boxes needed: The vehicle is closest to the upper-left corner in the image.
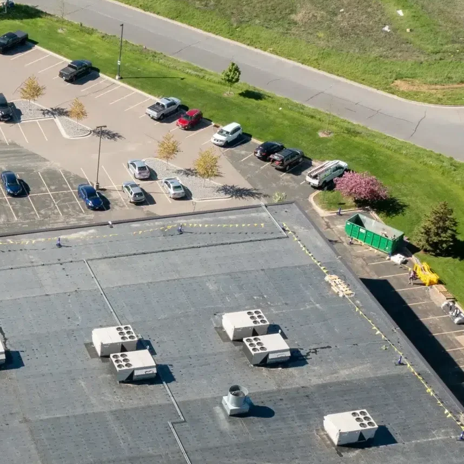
[0,31,28,51]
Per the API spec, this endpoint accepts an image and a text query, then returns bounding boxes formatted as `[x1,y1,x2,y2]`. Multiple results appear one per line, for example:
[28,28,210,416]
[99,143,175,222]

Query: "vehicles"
[269,149,306,171]
[160,179,188,202]
[0,174,23,199]
[77,187,104,211]
[210,121,245,146]
[0,93,13,119]
[174,106,206,130]
[0,31,28,51]
[253,143,285,162]
[125,161,153,183]
[121,183,148,207]
[144,98,182,120]
[306,162,345,187]
[58,56,94,81]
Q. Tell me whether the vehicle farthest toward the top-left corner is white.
No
